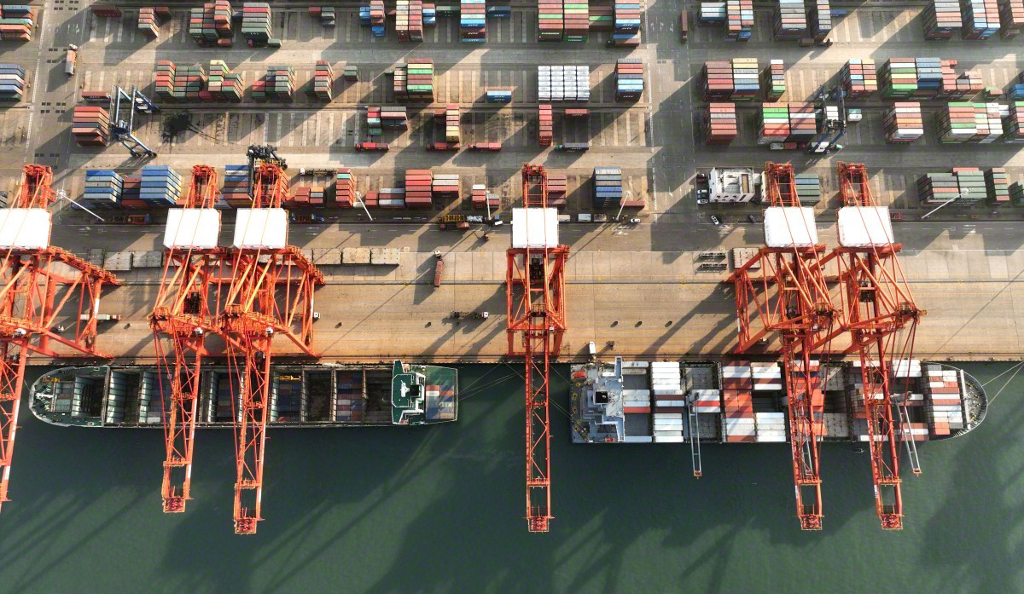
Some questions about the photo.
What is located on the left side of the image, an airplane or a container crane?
container crane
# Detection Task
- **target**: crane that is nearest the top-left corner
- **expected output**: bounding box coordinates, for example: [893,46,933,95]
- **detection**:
[111,86,162,155]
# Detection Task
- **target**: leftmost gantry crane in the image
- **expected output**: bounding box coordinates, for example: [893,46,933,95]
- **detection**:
[0,164,125,517]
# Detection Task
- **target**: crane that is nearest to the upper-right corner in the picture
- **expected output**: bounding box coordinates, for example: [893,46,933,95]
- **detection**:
[805,81,848,152]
